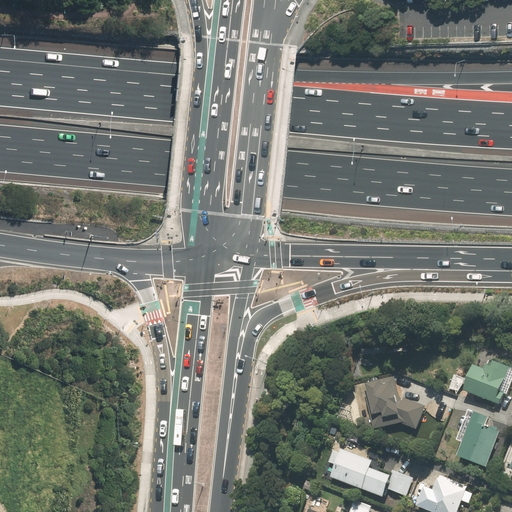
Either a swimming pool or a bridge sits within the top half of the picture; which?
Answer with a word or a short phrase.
bridge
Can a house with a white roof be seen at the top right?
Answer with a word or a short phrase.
No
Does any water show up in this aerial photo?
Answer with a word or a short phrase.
No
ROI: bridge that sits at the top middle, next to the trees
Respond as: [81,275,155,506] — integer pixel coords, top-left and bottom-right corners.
[165,35,298,220]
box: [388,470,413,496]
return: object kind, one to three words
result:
building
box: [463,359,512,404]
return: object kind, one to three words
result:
house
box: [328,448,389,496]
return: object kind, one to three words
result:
house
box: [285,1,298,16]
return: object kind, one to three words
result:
vehicle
